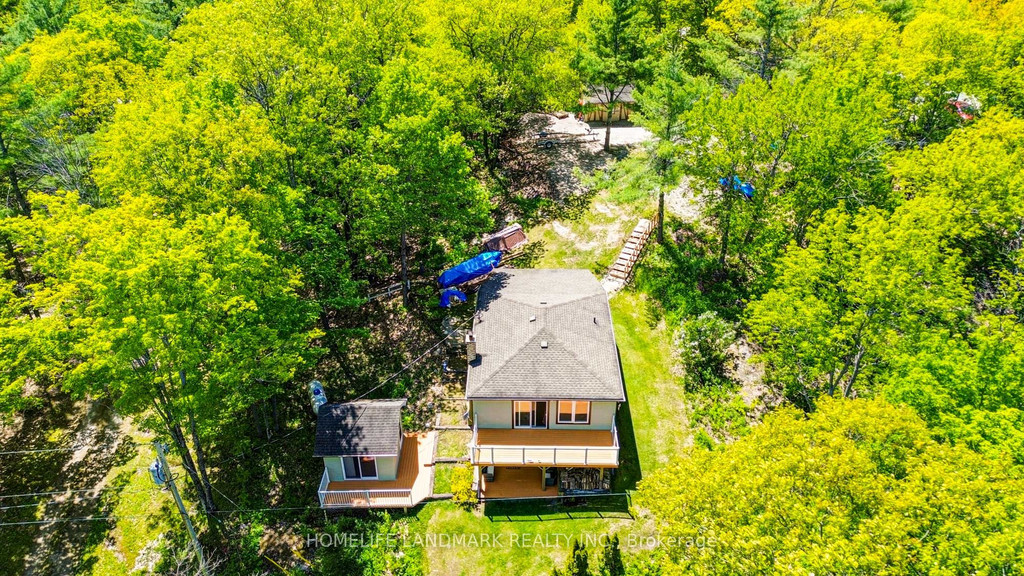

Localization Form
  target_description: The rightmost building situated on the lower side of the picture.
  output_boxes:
[462,269,628,507]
